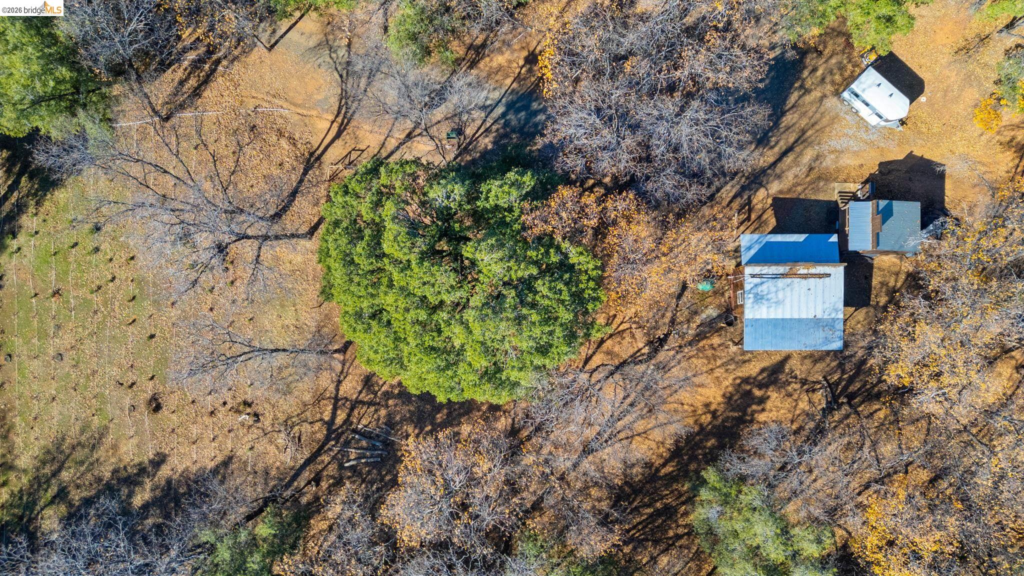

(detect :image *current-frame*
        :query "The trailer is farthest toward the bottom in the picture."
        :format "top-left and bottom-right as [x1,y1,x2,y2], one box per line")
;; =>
[839,66,908,132]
